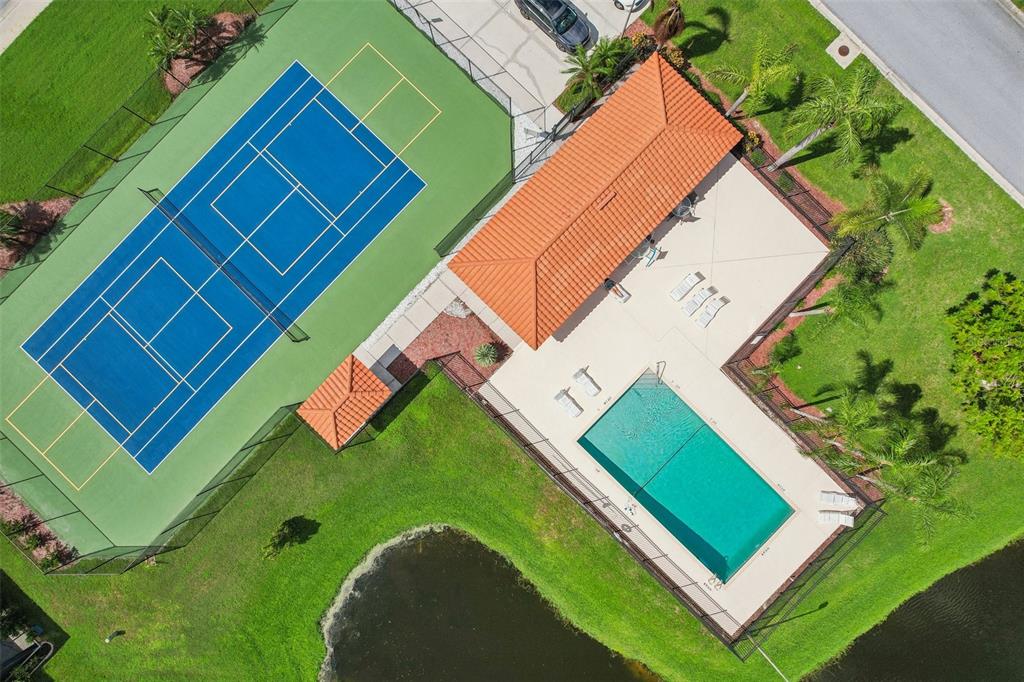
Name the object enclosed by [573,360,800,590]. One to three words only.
swimming pool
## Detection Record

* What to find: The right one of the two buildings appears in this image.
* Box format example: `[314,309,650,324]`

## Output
[447,50,745,349]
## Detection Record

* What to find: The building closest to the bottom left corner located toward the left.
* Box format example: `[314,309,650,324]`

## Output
[295,353,392,451]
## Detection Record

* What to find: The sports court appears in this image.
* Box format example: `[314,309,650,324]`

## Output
[0,0,511,557]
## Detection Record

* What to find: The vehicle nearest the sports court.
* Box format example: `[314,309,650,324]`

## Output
[516,0,589,55]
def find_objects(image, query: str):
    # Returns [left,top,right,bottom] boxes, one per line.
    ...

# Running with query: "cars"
[615,0,643,11]
[516,0,589,55]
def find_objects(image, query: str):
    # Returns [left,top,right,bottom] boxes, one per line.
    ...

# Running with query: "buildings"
[295,353,392,451]
[447,50,745,349]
